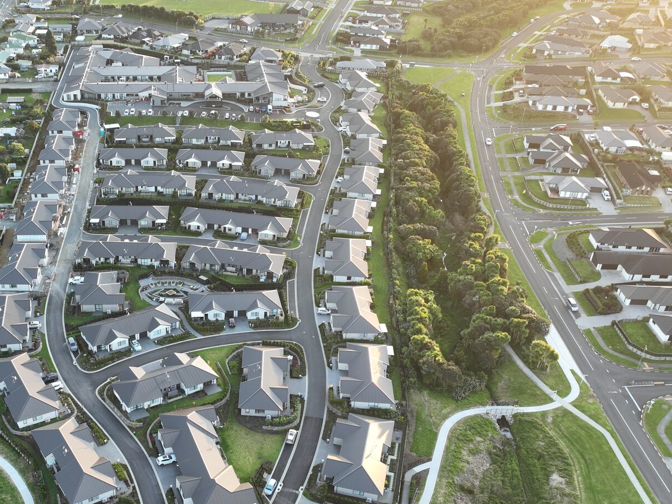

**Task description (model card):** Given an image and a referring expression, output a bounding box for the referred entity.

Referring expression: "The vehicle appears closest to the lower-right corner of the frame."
[564,299,580,314]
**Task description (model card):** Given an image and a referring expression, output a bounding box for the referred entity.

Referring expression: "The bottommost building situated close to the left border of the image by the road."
[30,415,131,504]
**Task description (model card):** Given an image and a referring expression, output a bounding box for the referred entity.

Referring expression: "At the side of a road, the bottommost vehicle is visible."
[264,476,277,493]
